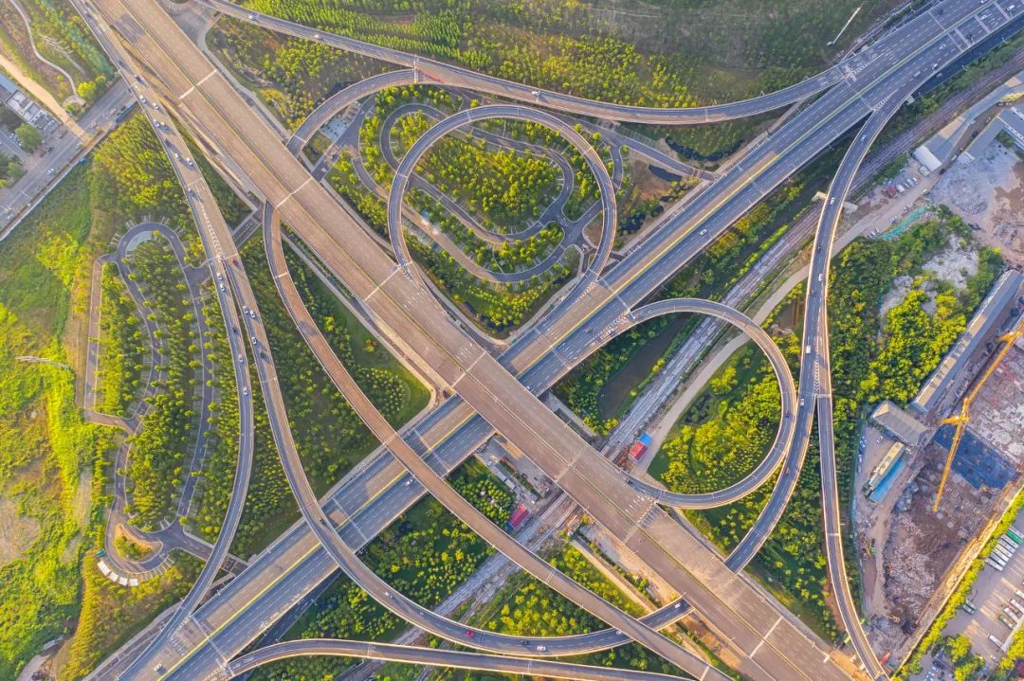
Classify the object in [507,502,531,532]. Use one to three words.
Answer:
shed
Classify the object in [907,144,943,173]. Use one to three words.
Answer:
building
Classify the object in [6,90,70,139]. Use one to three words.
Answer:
building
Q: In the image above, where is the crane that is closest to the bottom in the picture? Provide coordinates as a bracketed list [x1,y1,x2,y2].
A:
[932,398,983,511]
